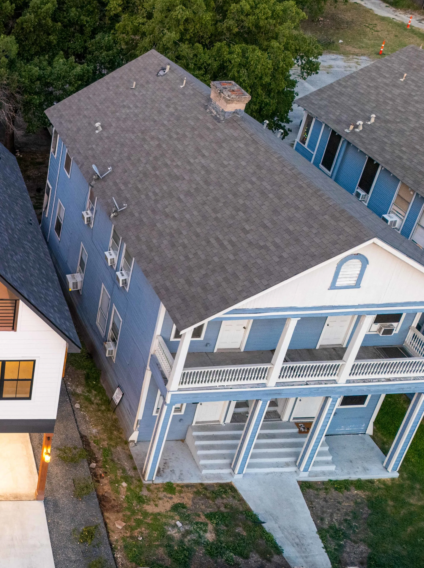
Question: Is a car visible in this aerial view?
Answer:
No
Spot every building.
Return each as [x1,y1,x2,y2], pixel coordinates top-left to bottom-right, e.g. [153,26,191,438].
[0,142,85,502]
[43,49,424,487]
